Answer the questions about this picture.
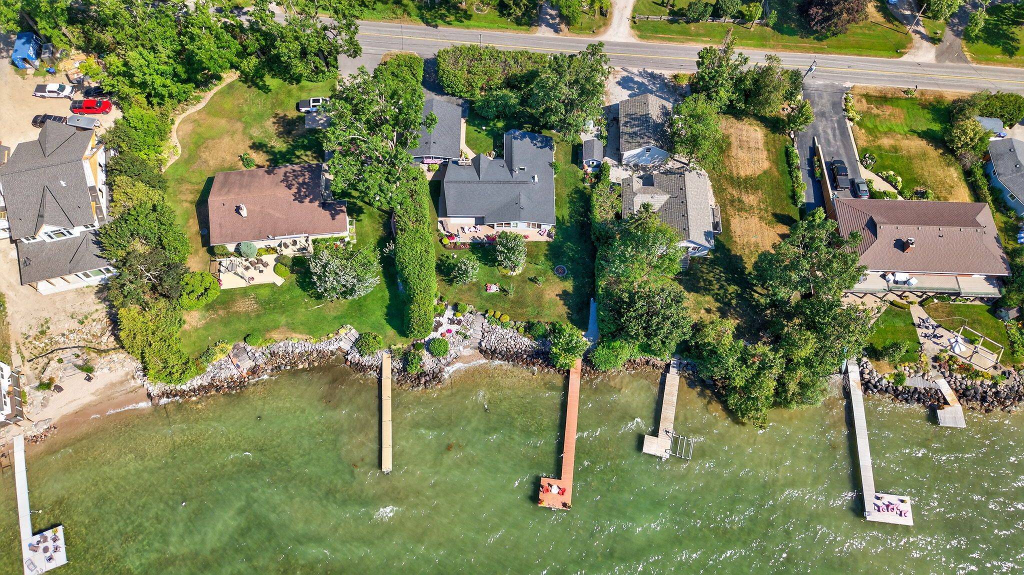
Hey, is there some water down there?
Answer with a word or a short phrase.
Yes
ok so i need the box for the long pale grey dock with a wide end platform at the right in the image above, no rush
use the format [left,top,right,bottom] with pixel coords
[846,364,914,526]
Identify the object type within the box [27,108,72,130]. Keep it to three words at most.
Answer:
truck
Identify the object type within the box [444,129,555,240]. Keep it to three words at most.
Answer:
house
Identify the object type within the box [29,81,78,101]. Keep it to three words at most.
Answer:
vehicle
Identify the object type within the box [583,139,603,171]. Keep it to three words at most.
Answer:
shed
